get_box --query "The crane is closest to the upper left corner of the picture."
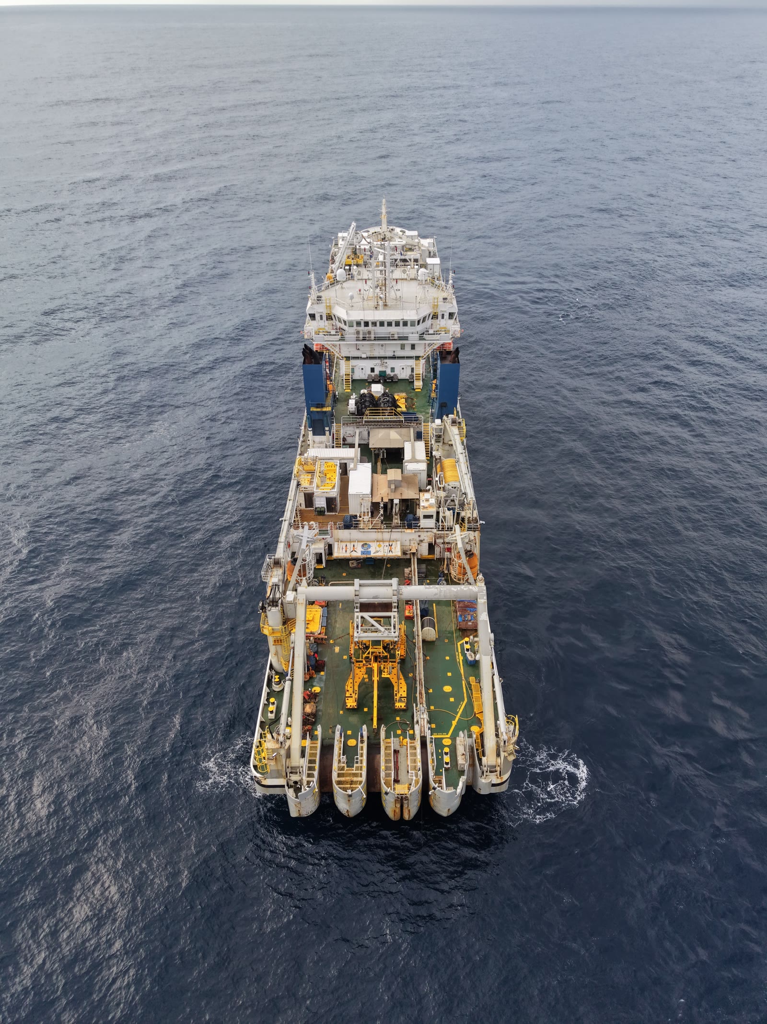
[332,219,385,280]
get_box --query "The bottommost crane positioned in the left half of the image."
[256,469,310,673]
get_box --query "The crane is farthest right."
[431,405,477,539]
